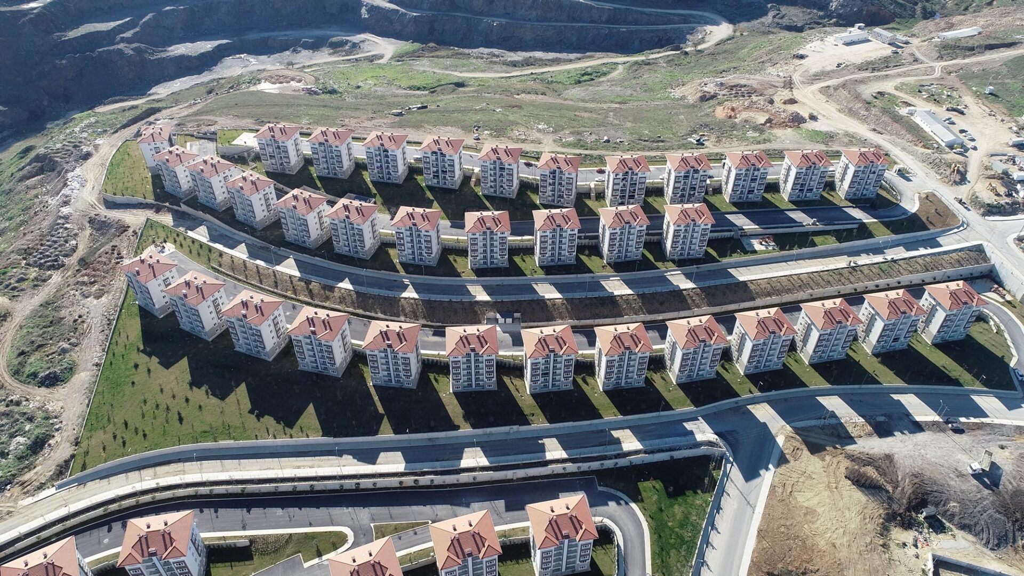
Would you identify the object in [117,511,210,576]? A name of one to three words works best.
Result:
building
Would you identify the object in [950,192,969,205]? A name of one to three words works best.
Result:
vehicle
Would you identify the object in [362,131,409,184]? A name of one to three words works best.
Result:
building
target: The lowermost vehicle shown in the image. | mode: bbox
[965,455,1005,477]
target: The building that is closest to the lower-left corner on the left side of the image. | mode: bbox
[2,535,98,576]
